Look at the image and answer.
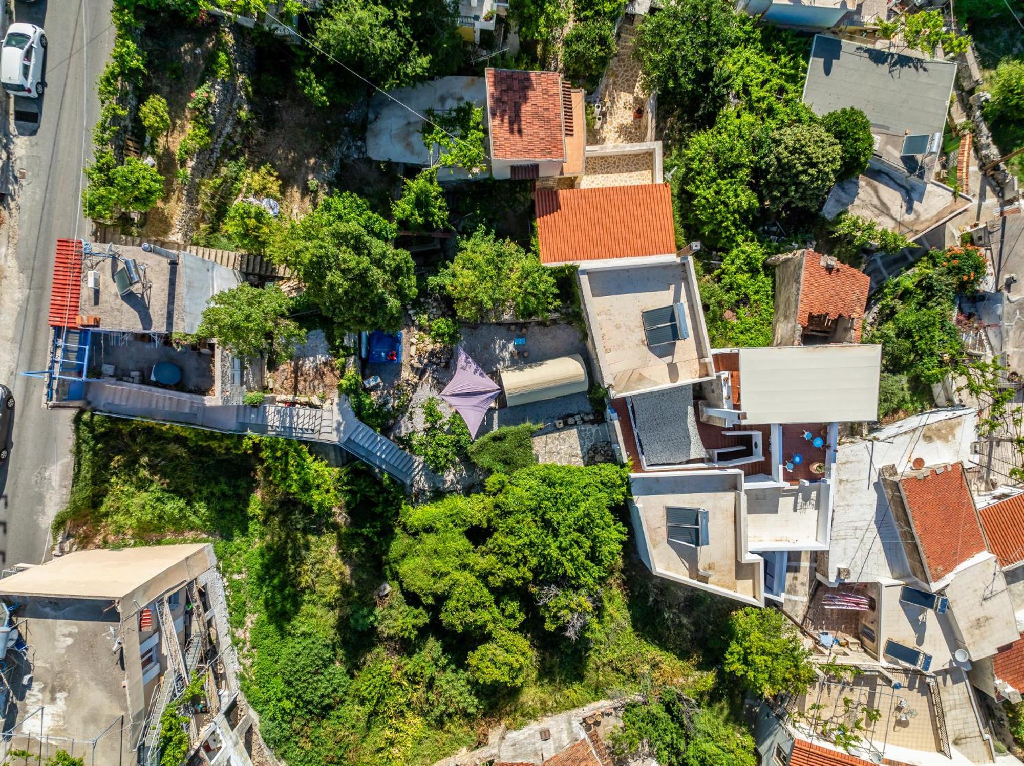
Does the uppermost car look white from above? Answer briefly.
Yes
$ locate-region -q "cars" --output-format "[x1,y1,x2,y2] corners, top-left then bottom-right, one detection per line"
[0,392,13,462]
[0,23,46,97]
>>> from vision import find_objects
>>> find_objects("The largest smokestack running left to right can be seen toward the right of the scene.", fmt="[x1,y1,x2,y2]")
[696,400,749,427]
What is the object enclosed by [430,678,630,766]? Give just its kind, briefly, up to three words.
house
